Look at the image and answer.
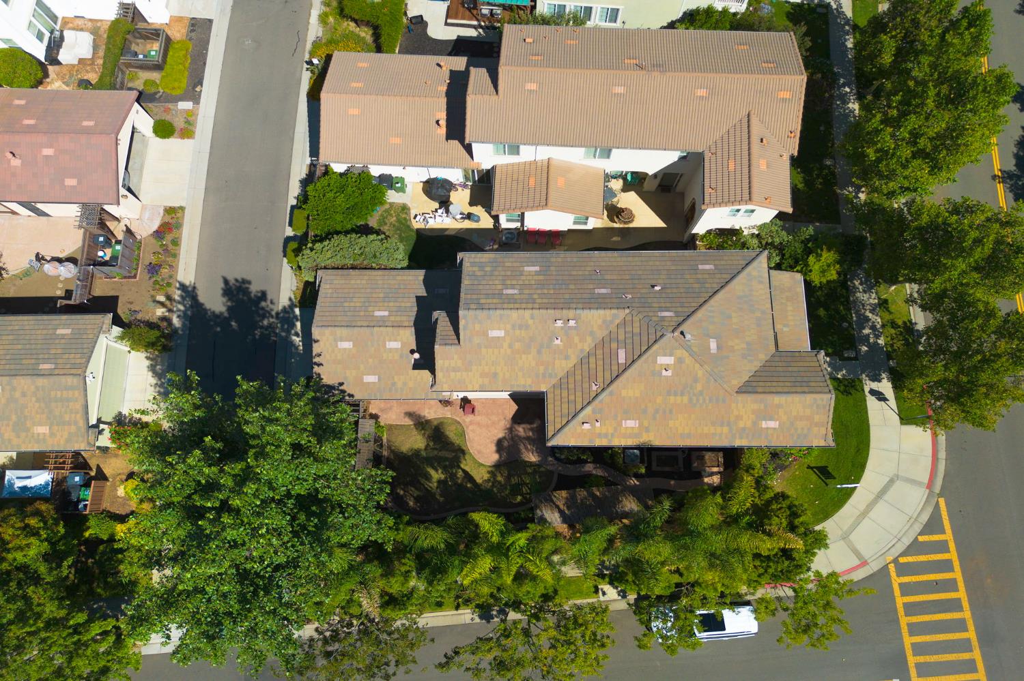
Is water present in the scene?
No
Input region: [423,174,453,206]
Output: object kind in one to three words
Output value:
umbrella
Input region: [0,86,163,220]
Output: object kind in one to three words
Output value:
house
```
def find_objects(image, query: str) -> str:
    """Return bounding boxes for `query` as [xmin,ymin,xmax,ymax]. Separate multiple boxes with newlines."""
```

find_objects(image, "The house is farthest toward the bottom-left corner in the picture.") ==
[0,312,132,453]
